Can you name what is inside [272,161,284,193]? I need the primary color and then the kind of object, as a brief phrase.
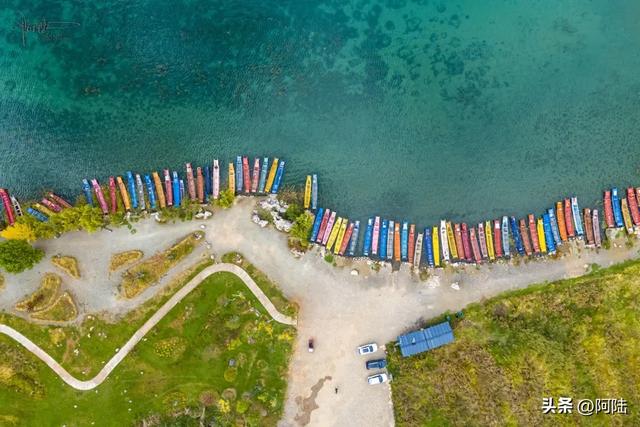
blue boat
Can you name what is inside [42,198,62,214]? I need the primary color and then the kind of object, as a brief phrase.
pink boat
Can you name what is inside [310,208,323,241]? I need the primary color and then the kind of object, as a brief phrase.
blue boat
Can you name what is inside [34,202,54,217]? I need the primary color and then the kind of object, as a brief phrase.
yellow boat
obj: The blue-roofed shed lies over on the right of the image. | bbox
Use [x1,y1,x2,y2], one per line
[398,322,453,354]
